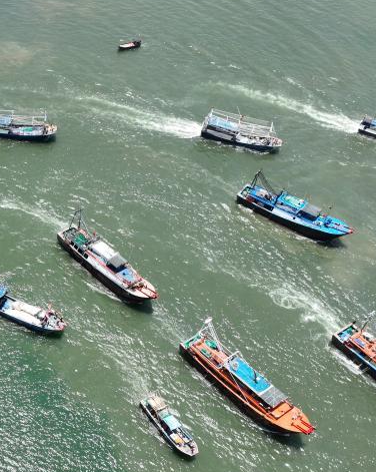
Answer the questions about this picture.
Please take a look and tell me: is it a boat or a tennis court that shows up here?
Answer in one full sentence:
I can see a boat in this picture.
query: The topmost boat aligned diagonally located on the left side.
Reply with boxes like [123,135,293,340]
[58,216,163,303]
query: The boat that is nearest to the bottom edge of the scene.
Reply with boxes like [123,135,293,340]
[141,395,200,453]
